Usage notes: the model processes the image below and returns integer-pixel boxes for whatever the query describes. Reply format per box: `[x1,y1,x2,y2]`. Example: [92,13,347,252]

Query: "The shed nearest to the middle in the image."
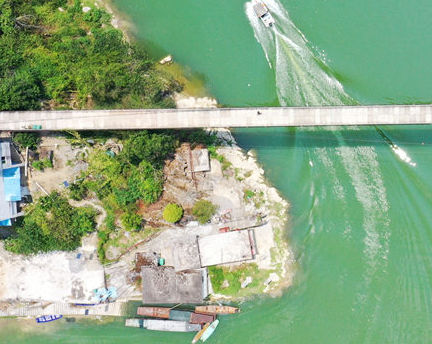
[193,148,213,171]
